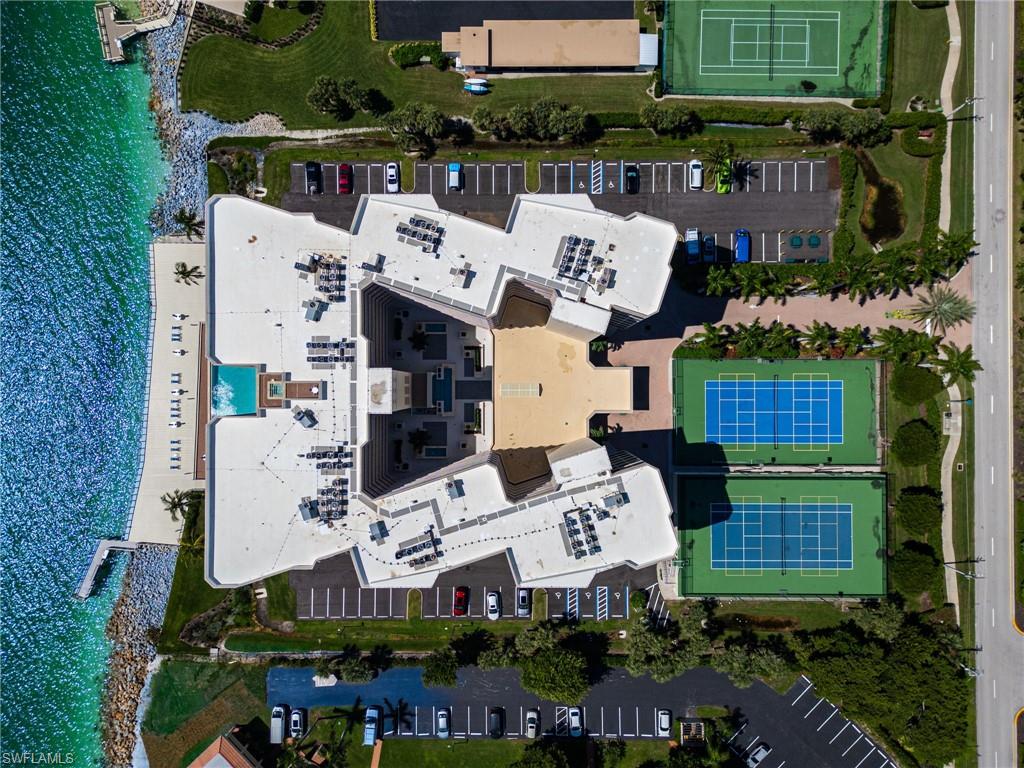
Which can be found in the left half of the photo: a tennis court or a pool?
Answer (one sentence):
There is a pool in the left half of the photo.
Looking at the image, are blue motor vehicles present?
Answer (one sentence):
Yes, a blue motor vehicle can be made out from above.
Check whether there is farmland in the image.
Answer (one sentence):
No, farmland can't be seen anywhere here.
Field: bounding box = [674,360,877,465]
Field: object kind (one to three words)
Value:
tennis court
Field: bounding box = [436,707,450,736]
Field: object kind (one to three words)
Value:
car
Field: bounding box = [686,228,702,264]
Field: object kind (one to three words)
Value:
vehicle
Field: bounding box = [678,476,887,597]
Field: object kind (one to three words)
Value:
tennis court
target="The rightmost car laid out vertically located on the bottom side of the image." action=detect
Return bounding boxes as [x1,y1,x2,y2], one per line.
[658,707,672,737]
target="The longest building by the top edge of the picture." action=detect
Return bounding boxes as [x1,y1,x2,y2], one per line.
[441,20,640,77]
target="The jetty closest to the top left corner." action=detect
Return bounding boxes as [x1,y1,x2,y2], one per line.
[94,0,179,64]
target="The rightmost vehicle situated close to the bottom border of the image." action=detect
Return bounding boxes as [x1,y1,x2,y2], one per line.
[745,739,774,768]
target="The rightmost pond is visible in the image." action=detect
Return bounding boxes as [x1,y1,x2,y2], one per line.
[859,148,904,242]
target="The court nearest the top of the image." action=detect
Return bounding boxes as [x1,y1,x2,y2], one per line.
[669,0,881,88]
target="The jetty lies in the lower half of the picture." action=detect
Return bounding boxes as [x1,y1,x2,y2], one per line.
[74,540,138,599]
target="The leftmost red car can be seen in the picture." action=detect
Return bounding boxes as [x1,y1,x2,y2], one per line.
[338,164,352,194]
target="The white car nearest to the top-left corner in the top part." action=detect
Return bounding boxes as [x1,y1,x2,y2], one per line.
[386,163,399,193]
